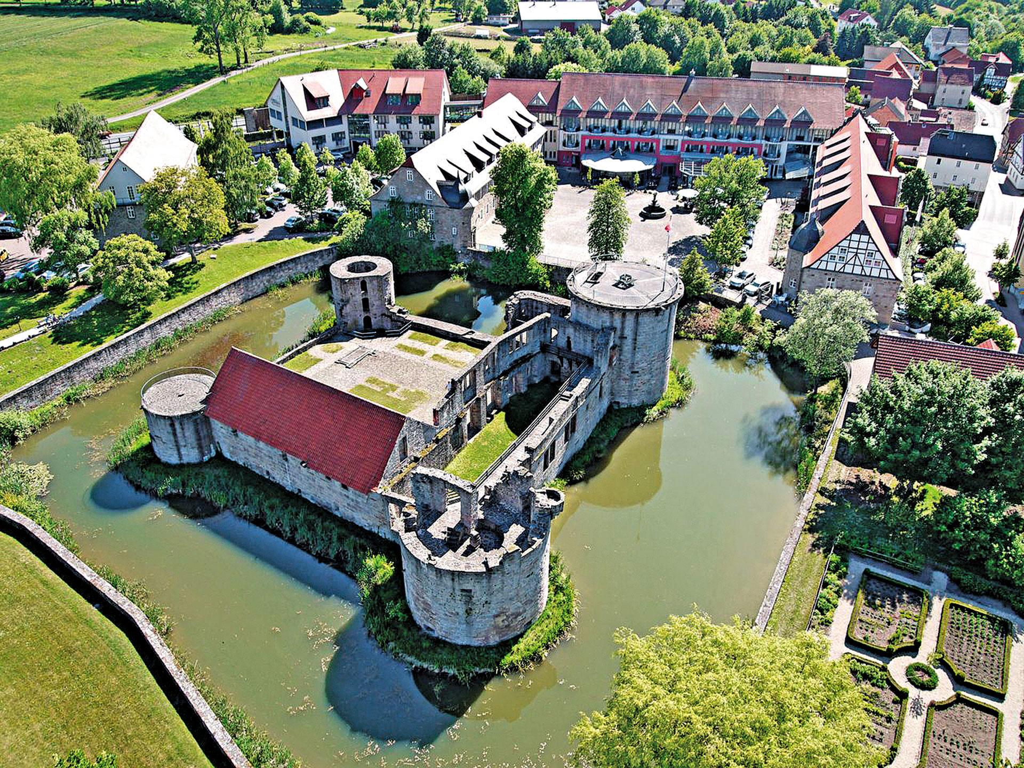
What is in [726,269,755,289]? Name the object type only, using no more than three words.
car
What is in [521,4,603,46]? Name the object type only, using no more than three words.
building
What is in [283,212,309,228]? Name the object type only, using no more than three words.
car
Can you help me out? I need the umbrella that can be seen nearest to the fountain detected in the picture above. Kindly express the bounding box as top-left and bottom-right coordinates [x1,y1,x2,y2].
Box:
[671,189,701,201]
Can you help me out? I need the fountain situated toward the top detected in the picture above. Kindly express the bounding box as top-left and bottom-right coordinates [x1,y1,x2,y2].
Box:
[636,191,670,223]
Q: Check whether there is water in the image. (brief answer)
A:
Yes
